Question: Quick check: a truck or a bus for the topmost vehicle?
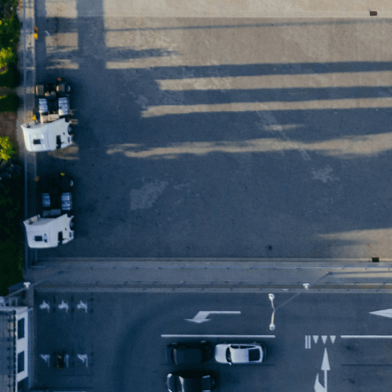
truck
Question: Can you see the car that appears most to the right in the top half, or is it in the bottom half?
bottom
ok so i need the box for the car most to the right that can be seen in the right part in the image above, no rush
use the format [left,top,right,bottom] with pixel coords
[217,340,269,368]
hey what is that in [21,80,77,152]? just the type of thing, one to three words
truck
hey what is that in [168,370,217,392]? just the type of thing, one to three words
car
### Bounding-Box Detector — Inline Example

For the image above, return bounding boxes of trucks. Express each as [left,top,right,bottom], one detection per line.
[21,80,77,152]
[24,174,80,248]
